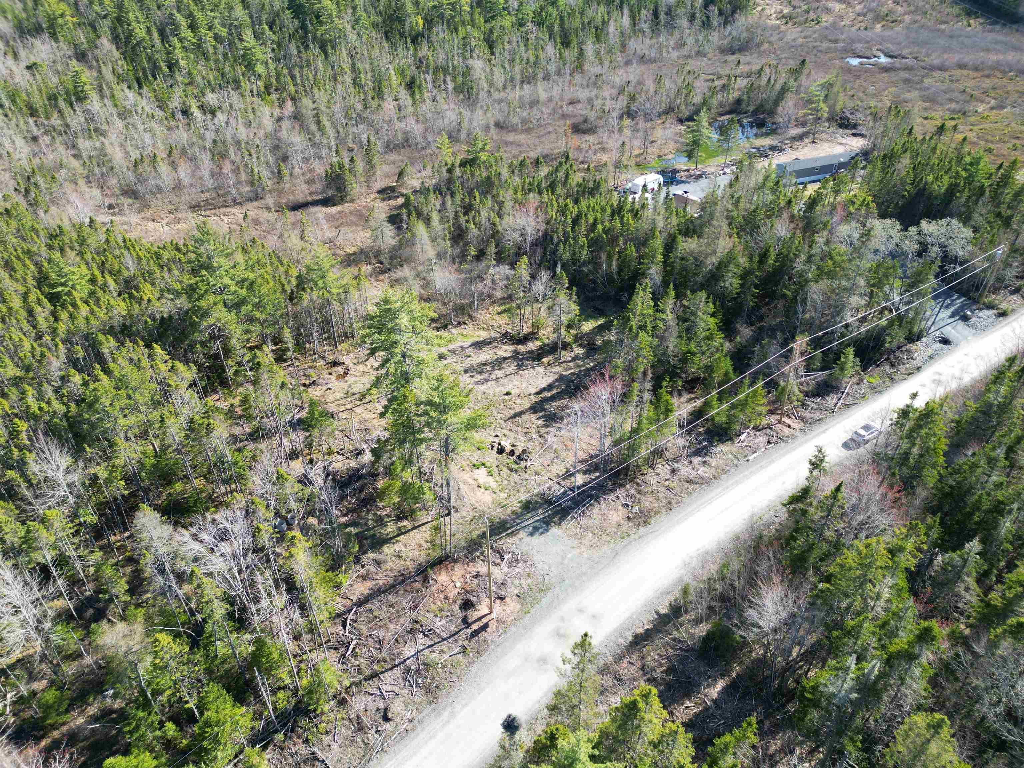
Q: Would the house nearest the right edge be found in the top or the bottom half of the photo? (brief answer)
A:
top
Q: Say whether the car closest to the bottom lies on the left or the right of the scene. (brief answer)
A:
right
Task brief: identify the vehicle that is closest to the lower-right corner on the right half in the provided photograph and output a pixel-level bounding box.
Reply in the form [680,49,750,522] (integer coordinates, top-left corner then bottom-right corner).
[849,414,888,441]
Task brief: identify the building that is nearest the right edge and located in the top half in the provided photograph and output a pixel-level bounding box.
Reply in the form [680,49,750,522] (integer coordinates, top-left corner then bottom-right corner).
[768,149,866,187]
